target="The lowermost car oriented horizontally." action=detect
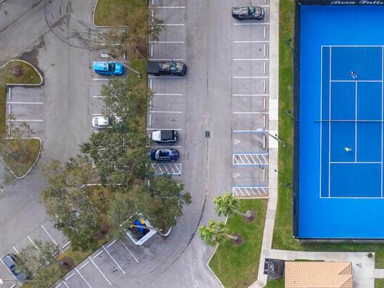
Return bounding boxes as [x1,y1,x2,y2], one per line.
[151,147,182,162]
